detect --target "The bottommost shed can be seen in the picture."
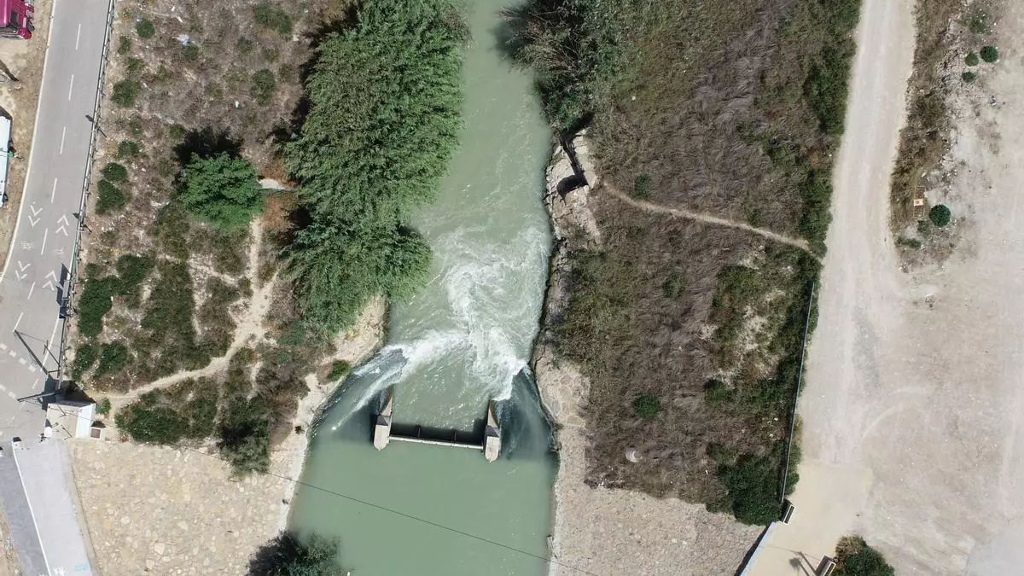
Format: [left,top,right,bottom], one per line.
[43,399,96,439]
